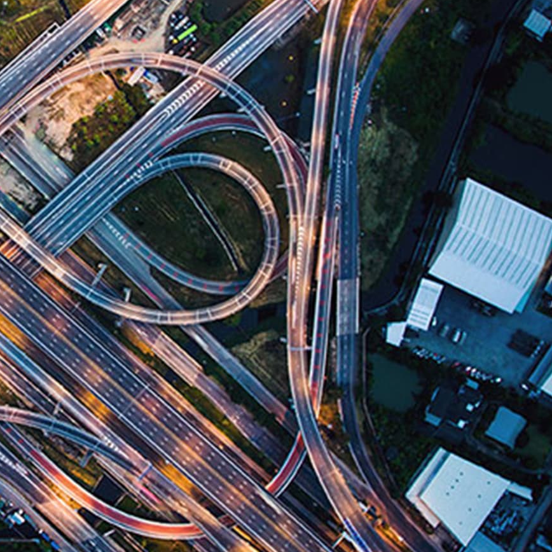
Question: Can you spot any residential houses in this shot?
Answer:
Yes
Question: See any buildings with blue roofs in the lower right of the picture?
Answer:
Yes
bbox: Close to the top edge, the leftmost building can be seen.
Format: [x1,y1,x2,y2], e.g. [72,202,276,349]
[448,18,476,43]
